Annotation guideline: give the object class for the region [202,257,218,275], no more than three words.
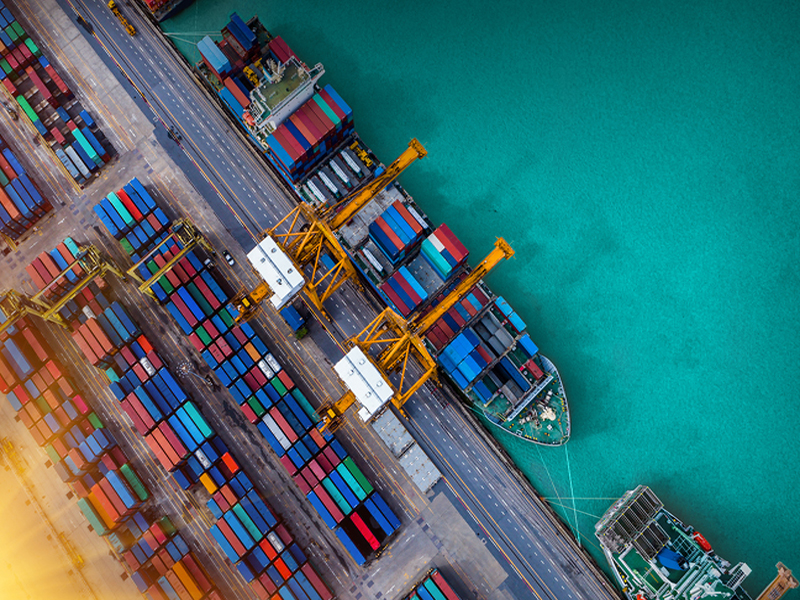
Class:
vehicle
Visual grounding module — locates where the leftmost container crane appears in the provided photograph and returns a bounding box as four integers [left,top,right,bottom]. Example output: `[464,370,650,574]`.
[0,288,46,335]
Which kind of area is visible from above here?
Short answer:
port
